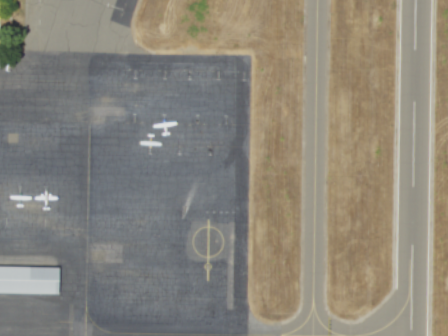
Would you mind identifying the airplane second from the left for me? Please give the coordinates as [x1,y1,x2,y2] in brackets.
[34,192,58,210]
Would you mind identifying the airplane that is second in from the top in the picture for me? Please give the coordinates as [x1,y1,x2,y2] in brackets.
[140,134,162,150]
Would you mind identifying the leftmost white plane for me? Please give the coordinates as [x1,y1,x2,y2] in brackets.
[9,193,32,208]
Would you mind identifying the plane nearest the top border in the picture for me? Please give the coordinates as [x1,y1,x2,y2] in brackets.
[154,120,178,136]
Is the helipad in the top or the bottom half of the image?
bottom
